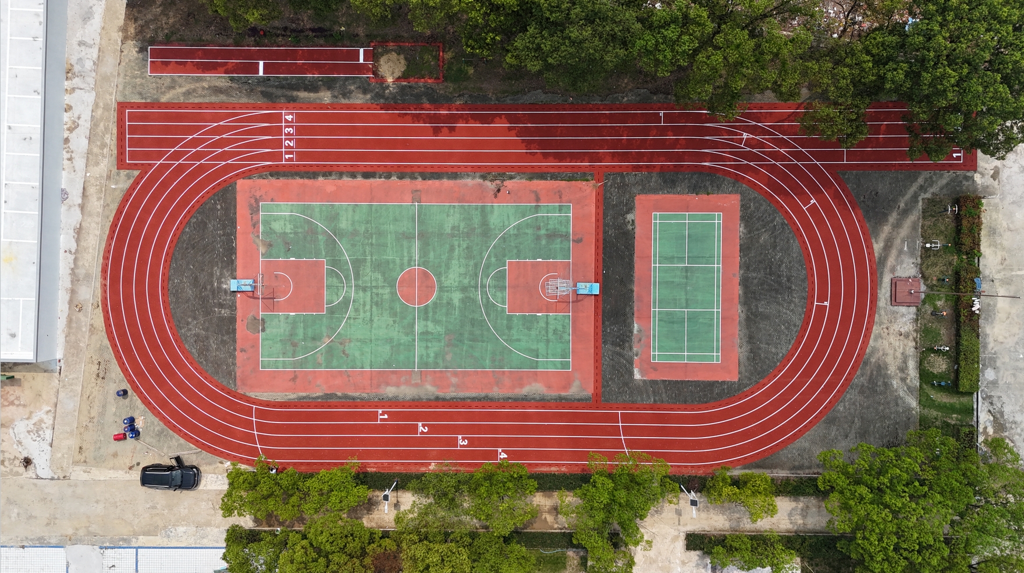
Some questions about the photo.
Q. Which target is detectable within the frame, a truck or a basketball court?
basketball court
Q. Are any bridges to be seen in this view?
No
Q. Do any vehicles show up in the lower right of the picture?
No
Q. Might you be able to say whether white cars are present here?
No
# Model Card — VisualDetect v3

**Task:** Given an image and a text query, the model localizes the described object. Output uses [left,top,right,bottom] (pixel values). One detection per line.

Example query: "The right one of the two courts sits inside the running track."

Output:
[634,194,740,381]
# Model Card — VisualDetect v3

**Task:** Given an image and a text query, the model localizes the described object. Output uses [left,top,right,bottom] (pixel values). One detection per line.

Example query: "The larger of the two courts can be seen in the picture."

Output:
[236,179,595,394]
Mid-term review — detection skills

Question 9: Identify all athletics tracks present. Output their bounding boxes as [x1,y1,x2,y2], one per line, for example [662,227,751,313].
[101,102,976,475]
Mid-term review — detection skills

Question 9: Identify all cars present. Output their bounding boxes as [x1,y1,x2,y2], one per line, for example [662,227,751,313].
[139,455,202,493]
